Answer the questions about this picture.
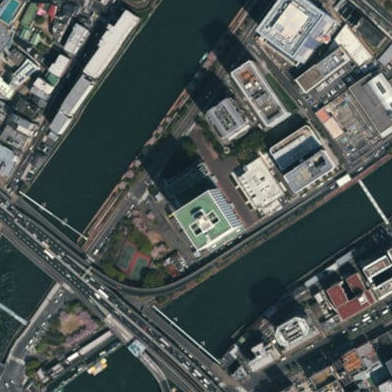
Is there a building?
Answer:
Yes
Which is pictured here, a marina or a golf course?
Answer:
marina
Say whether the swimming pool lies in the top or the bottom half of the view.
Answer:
top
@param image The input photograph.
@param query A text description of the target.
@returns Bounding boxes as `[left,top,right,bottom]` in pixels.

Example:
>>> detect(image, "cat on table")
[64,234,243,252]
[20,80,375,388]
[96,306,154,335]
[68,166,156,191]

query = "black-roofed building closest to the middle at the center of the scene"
[155,155,202,198]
